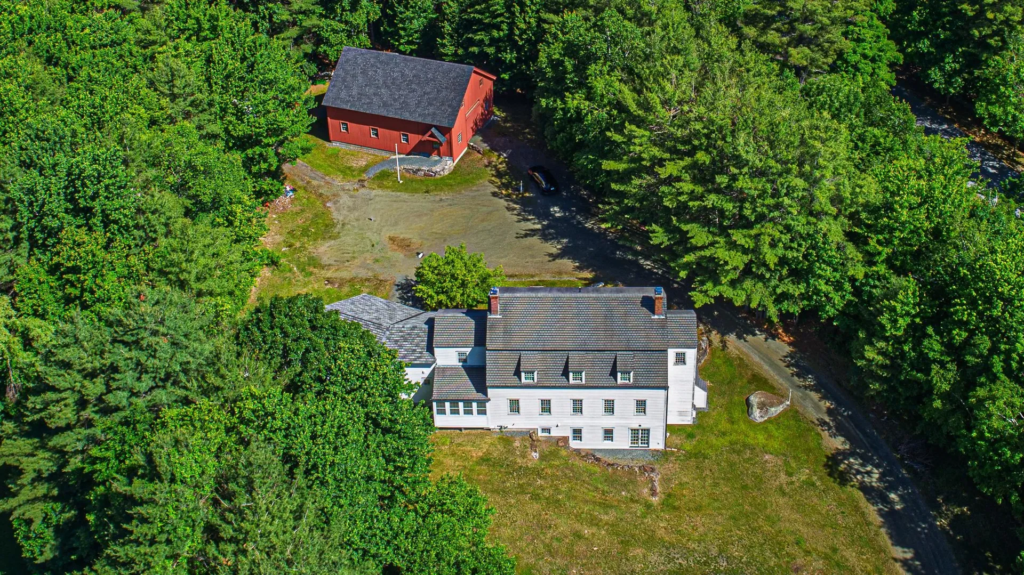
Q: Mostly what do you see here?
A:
trees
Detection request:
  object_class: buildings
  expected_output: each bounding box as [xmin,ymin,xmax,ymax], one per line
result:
[316,287,709,450]
[322,45,497,166]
